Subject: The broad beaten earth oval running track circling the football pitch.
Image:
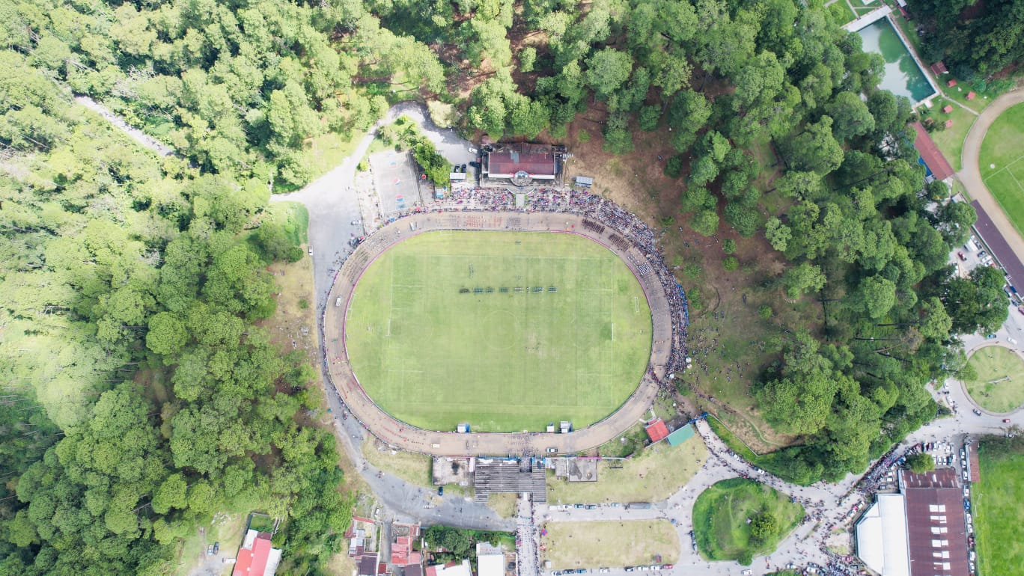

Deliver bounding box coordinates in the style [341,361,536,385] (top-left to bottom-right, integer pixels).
[323,209,672,456]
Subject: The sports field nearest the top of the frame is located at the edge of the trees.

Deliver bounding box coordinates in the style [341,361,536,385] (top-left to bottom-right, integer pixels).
[979,102,1024,253]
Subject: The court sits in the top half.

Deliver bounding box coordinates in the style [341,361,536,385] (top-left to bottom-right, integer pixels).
[370,150,423,218]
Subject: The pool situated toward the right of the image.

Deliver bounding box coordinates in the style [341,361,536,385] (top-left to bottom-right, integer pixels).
[849,5,939,107]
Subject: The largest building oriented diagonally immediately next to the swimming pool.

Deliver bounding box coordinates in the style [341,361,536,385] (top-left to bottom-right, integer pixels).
[899,121,954,182]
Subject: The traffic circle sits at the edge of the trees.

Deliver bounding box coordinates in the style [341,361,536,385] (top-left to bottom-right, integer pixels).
[958,341,1024,418]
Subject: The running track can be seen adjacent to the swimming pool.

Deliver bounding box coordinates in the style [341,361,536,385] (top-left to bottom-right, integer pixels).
[958,83,1024,281]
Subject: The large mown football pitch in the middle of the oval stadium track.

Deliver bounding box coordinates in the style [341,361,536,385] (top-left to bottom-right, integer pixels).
[345,230,652,432]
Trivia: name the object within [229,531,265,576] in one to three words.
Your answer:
house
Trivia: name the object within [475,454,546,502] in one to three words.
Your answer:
building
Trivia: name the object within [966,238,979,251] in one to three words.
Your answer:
vehicle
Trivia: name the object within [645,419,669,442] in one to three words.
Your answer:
house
